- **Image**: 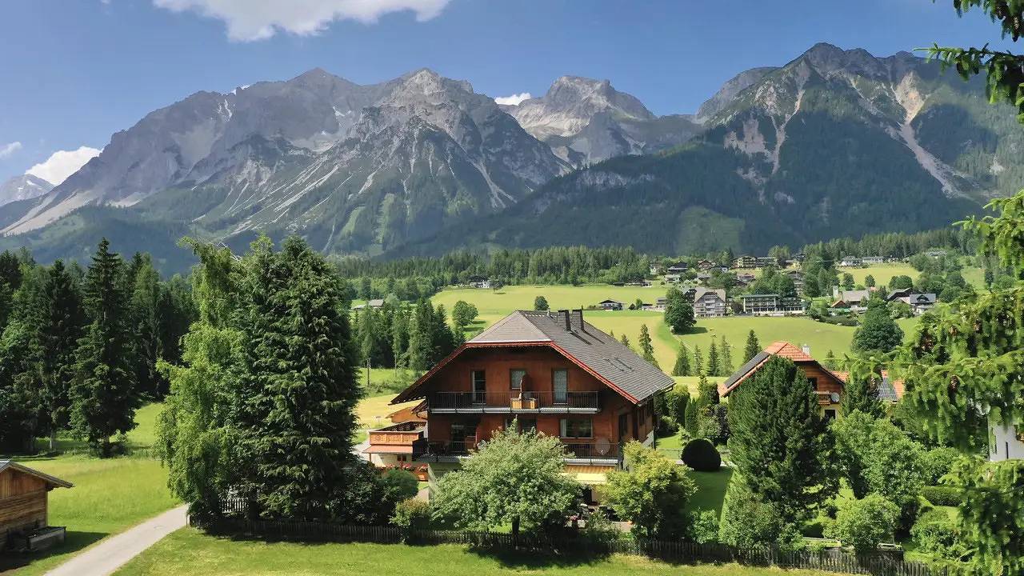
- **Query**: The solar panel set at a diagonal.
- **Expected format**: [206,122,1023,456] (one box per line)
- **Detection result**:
[724,342,772,381]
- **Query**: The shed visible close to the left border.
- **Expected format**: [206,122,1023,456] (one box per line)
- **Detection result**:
[0,463,75,543]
